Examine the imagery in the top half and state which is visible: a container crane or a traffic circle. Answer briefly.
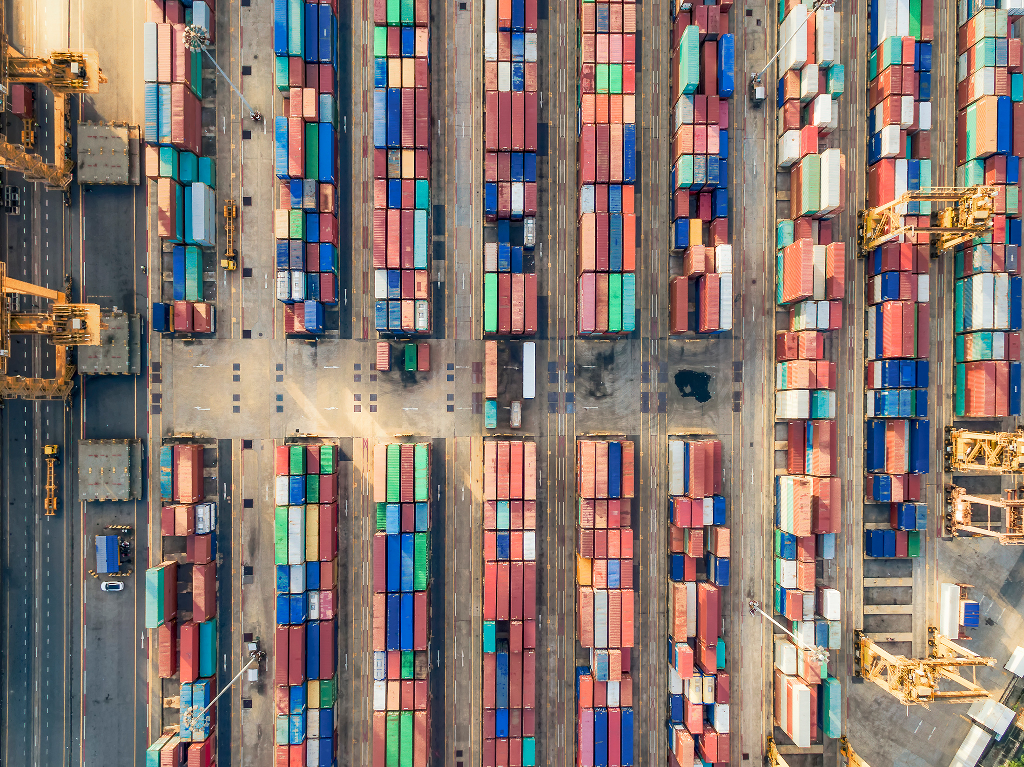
container crane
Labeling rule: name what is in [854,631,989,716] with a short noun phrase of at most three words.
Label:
container crane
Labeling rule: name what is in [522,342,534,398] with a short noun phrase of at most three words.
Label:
vehicle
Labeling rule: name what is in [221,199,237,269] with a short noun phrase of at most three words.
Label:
vehicle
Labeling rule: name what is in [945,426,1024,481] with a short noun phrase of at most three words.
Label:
container crane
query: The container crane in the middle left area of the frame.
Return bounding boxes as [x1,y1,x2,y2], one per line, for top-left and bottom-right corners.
[0,269,109,405]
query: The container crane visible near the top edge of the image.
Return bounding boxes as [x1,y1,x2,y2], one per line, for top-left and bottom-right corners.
[0,30,109,203]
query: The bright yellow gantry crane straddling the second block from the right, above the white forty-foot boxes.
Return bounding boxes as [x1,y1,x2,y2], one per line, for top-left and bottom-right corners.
[857,194,993,258]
